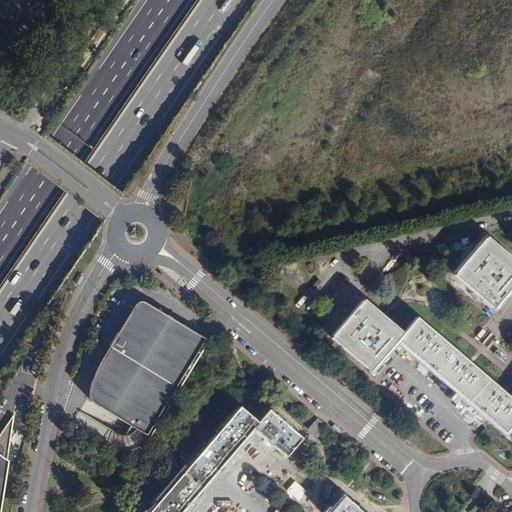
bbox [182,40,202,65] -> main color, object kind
white vehicle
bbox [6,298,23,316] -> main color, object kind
white vehicle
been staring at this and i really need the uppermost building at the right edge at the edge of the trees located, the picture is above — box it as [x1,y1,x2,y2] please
[454,236,512,310]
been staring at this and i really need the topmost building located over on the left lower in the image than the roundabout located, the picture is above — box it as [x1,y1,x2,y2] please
[90,302,204,432]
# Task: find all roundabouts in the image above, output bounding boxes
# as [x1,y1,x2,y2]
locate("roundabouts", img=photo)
[106,201,167,264]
